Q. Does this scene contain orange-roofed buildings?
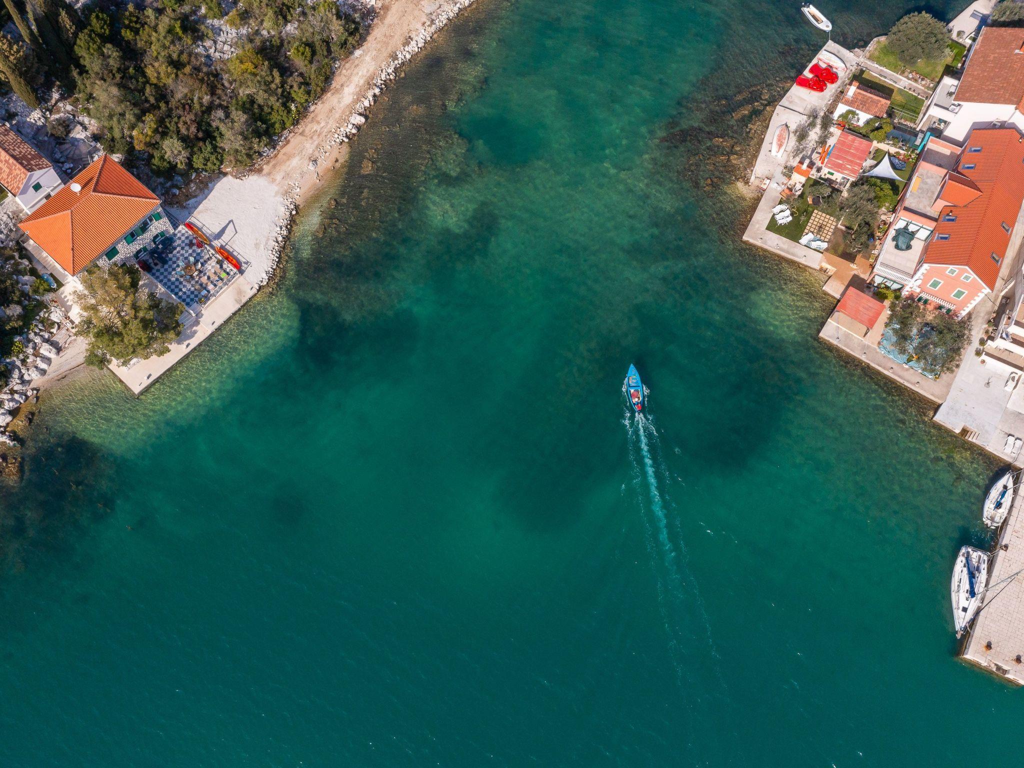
Yes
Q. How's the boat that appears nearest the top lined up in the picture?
diagonally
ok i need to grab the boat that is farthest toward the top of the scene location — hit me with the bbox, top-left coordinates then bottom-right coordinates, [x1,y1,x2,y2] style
[799,2,831,34]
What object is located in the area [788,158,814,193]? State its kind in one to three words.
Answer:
house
